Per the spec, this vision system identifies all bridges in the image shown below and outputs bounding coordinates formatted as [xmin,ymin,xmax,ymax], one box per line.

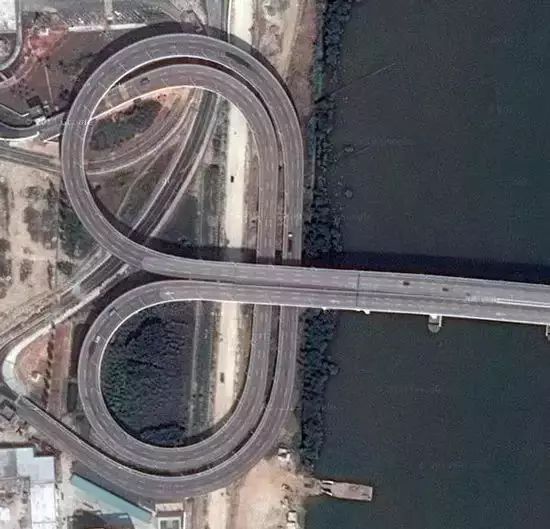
[138,248,550,340]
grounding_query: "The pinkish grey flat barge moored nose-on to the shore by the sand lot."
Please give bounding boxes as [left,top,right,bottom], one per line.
[325,482,372,501]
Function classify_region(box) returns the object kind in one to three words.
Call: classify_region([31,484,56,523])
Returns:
building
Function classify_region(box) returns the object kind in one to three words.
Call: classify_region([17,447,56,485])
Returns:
building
